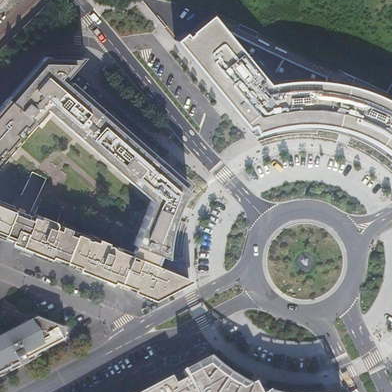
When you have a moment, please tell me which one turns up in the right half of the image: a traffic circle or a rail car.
traffic circle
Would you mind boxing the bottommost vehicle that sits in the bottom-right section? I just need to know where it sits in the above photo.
[341,370,358,392]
